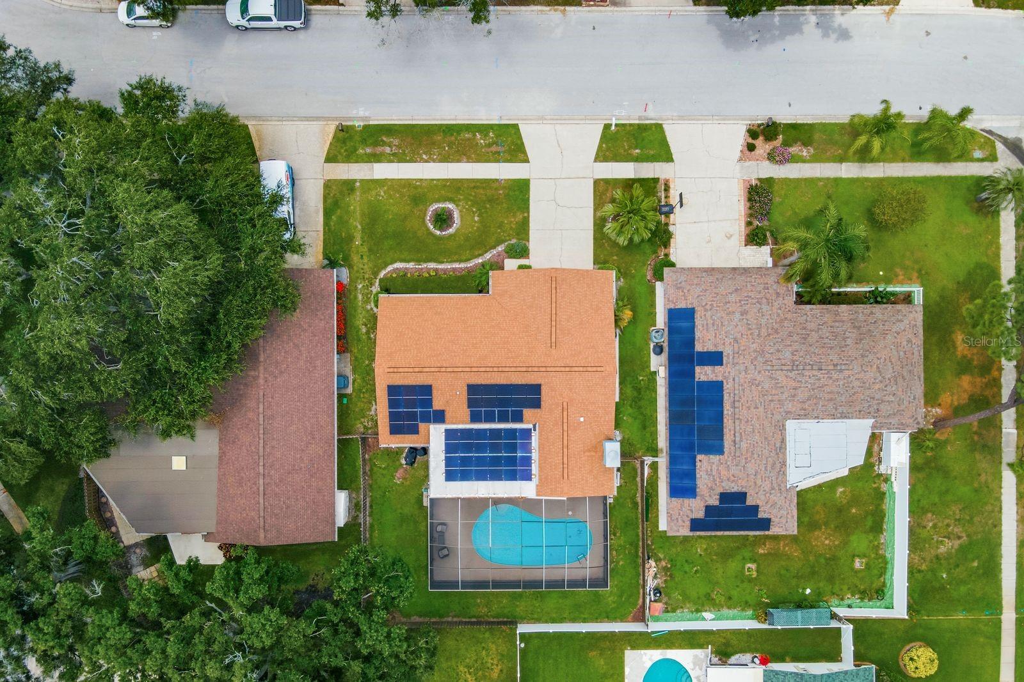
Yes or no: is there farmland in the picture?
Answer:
No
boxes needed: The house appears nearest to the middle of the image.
[374,257,618,500]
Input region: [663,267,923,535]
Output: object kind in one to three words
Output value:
house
